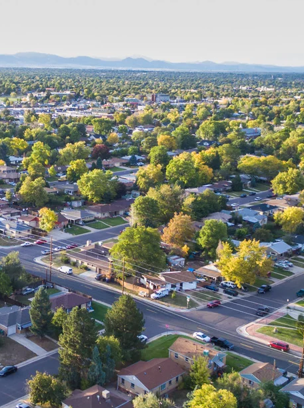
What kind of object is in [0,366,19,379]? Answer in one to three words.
vehicle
